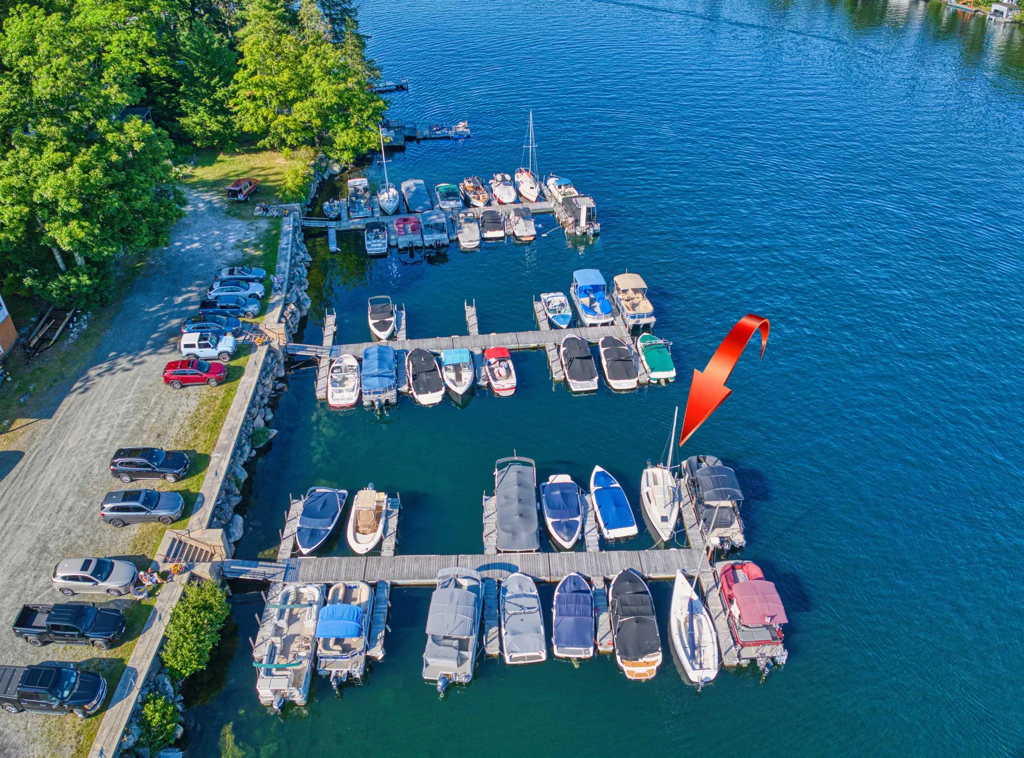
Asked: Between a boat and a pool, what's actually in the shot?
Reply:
boat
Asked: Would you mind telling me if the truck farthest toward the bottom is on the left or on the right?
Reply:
left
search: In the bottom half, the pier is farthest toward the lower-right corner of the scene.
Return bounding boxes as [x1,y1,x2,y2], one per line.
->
[699,576,746,669]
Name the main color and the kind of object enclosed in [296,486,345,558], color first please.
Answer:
blue boat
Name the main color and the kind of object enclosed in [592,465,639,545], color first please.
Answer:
blue boat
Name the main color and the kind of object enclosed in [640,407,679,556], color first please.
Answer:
white boat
